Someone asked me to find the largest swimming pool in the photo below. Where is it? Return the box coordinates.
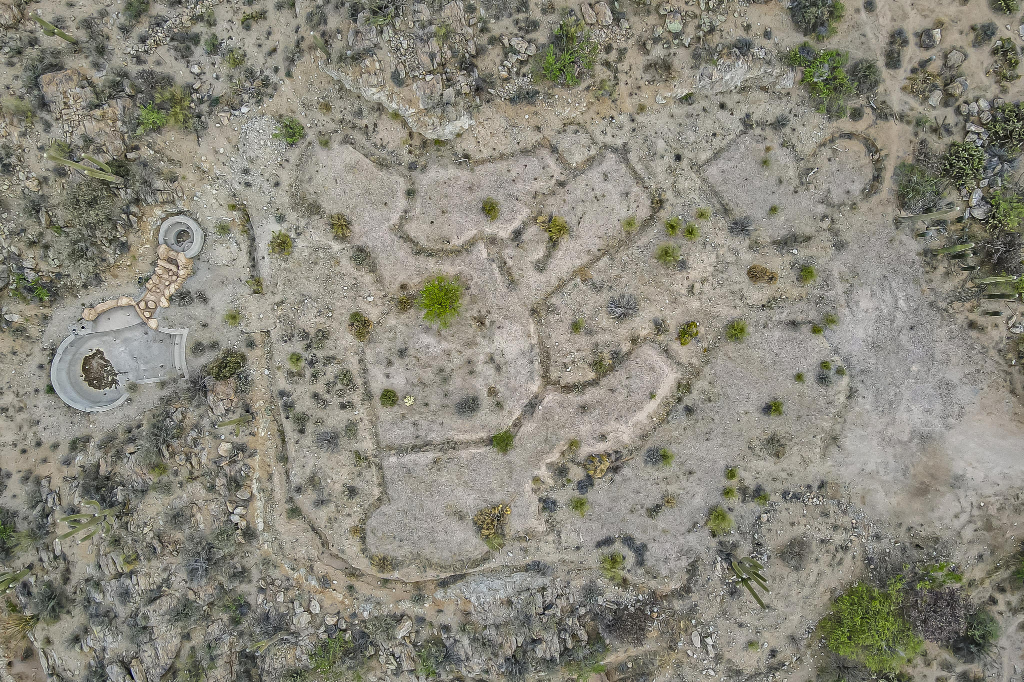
[51,310,191,412]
